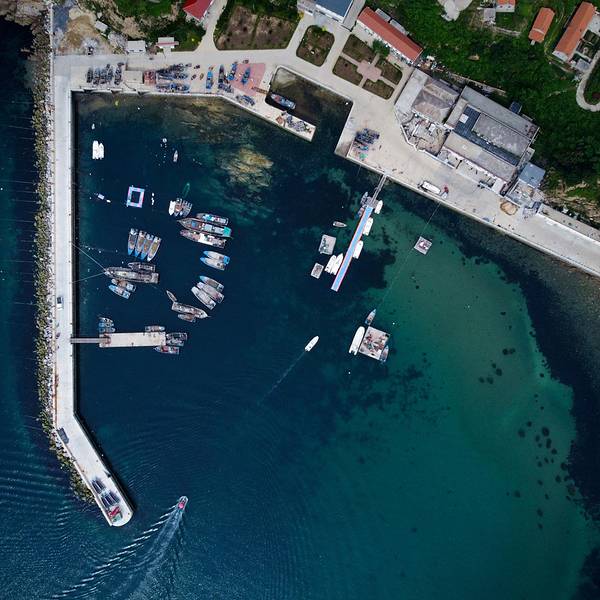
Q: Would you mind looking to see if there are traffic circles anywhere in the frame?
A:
No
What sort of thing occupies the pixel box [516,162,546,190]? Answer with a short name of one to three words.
shed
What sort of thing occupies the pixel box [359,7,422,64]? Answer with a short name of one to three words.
house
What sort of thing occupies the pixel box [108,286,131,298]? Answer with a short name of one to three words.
boat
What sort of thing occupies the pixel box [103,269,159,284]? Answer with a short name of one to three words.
boat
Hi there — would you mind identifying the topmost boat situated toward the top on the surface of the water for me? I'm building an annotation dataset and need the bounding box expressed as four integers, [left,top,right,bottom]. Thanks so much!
[271,94,297,109]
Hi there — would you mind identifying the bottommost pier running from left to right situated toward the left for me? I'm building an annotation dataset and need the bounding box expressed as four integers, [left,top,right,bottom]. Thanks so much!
[71,332,166,347]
